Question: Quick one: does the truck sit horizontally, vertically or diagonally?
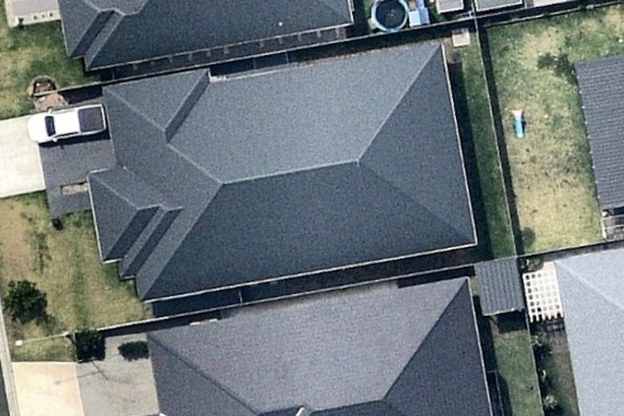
horizontally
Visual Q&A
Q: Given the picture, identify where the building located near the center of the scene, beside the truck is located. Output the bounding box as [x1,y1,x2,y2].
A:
[86,41,478,304]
